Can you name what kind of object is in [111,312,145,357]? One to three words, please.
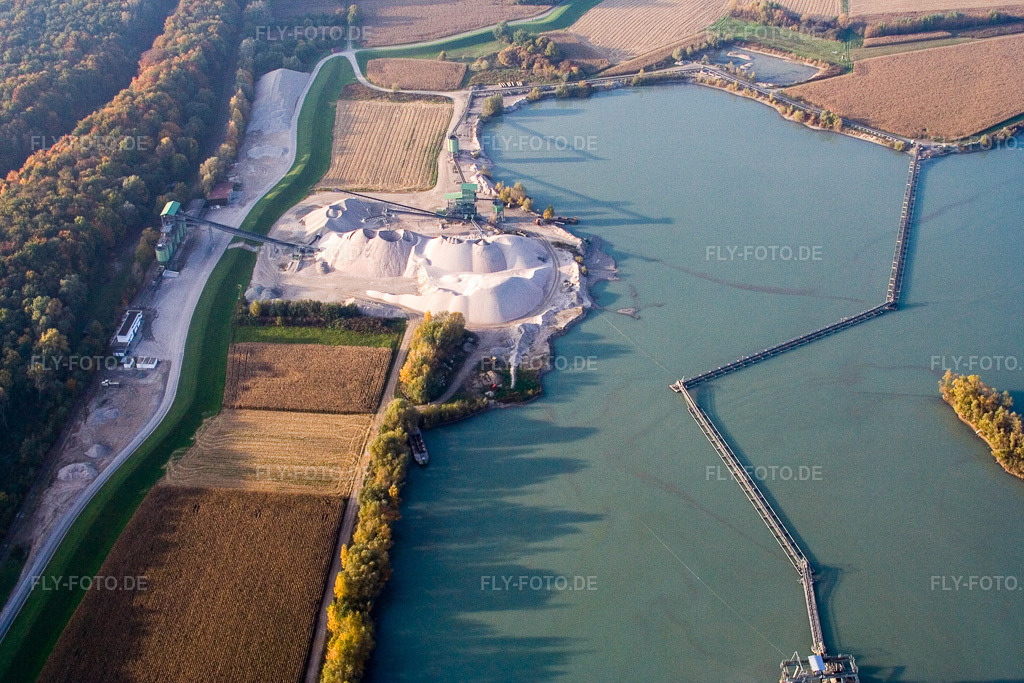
building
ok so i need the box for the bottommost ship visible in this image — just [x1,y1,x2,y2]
[778,642,866,683]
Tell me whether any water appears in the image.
Yes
